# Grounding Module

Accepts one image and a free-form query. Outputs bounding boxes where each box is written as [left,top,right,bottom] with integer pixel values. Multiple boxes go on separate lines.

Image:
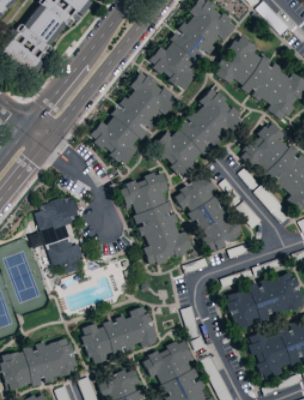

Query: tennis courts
[0,240,48,314]
[0,273,20,340]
